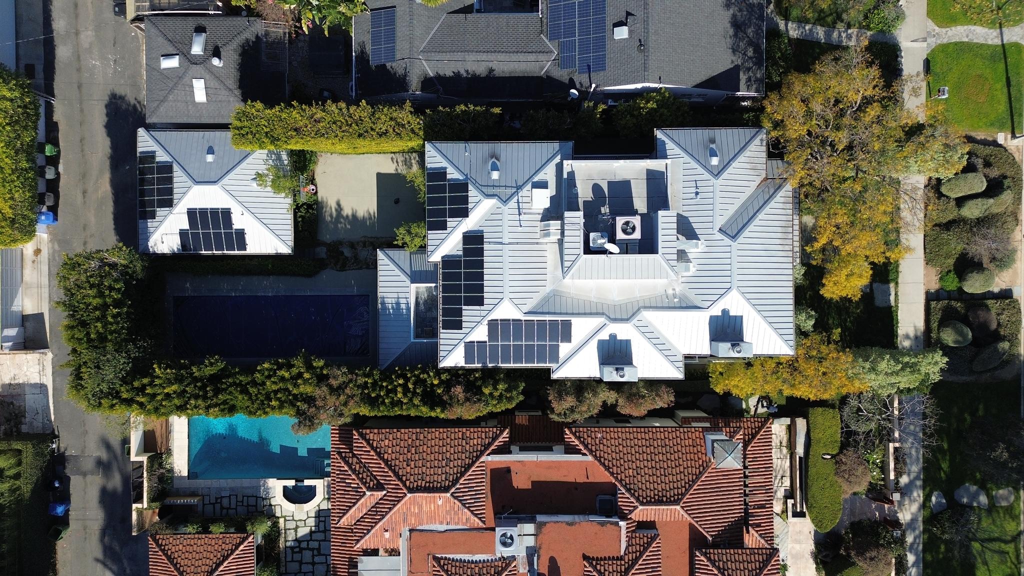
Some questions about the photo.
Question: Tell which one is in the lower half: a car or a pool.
pool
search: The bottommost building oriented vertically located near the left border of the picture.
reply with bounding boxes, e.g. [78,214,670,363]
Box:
[0,245,49,357]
